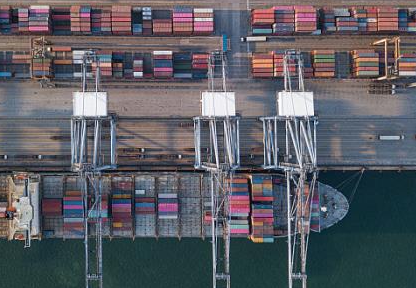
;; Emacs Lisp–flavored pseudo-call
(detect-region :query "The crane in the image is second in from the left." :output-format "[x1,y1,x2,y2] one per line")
[70,51,120,288]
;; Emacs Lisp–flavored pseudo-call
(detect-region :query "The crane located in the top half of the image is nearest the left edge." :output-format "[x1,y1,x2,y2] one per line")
[30,38,58,83]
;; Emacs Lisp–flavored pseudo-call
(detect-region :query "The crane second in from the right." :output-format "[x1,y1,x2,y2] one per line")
[264,51,321,288]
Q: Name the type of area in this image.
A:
port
